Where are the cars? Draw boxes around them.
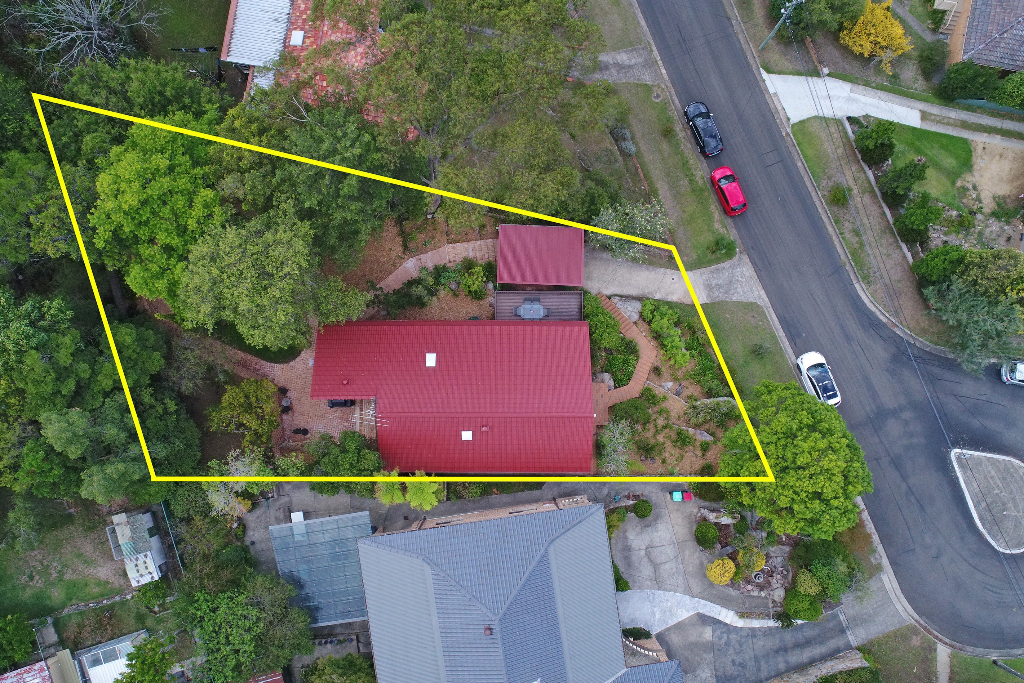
[711,165,747,219]
[685,99,725,161]
[996,361,1024,385]
[799,349,848,411]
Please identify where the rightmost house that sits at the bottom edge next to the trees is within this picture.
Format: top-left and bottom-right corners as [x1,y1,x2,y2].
[355,492,684,683]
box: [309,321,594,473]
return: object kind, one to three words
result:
house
